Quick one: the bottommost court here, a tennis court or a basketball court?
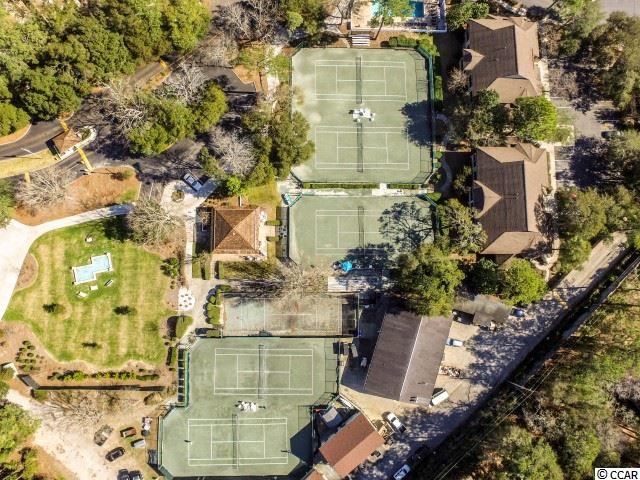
tennis court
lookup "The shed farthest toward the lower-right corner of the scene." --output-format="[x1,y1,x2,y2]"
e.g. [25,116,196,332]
[471,298,511,328]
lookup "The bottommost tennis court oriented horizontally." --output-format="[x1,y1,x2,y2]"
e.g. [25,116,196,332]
[161,408,312,476]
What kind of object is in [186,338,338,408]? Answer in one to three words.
tennis court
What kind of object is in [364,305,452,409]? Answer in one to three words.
barn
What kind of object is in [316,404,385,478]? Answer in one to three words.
shed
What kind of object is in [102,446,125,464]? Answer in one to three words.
car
